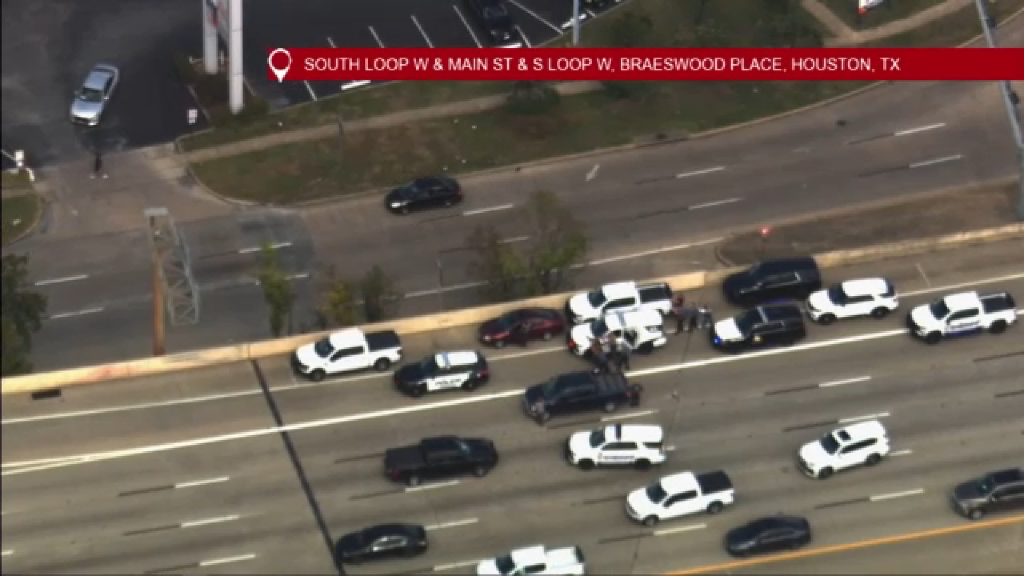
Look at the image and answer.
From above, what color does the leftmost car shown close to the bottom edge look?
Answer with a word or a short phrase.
black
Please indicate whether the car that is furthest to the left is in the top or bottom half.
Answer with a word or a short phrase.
top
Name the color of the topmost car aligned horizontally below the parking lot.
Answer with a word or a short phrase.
black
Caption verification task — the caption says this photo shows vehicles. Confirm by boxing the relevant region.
[723,517,815,560]
[565,283,674,328]
[950,470,1024,520]
[722,253,823,307]
[626,474,736,528]
[906,293,1018,346]
[71,70,119,126]
[334,523,431,566]
[455,0,516,48]
[798,424,891,478]
[807,278,900,326]
[384,179,465,216]
[523,371,633,423]
[478,310,567,353]
[564,422,668,473]
[476,548,589,576]
[382,437,500,490]
[394,349,490,399]
[711,304,806,354]
[567,308,668,362]
[290,331,403,383]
